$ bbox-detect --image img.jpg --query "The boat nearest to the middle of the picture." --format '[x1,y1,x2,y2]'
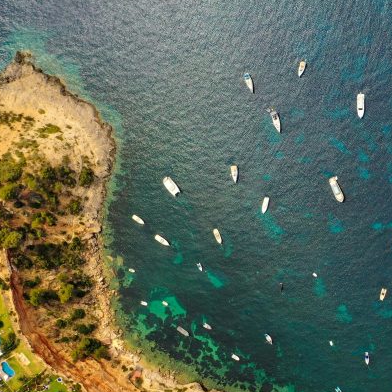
[162,176,180,197]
